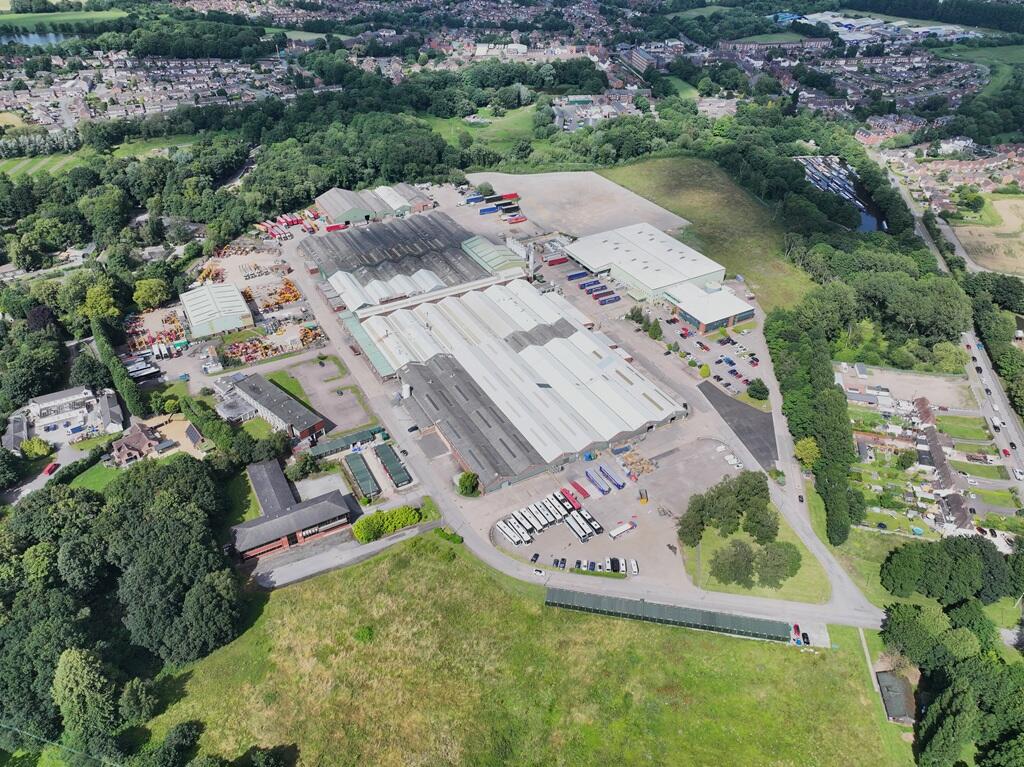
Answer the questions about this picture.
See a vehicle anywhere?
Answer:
Yes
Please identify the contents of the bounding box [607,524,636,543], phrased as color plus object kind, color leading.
white vehicle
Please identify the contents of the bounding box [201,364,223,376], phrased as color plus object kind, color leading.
white vehicle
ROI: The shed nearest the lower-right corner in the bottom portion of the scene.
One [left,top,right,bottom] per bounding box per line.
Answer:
[874,672,915,723]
